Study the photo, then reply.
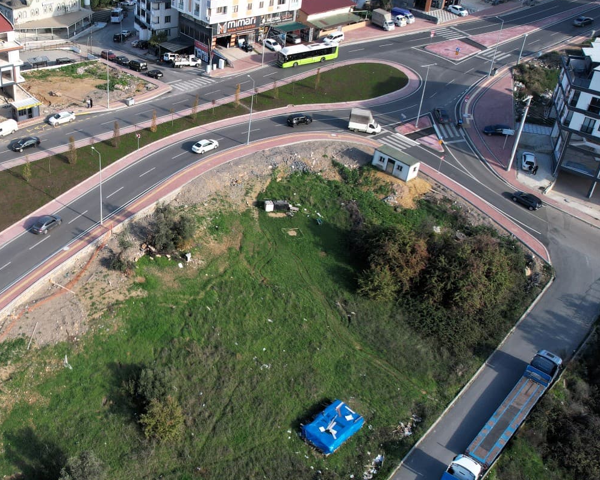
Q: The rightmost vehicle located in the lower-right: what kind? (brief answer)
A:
truck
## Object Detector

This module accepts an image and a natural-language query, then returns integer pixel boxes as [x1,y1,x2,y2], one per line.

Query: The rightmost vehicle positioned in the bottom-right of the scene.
[471,338,577,464]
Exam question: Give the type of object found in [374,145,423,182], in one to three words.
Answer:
building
